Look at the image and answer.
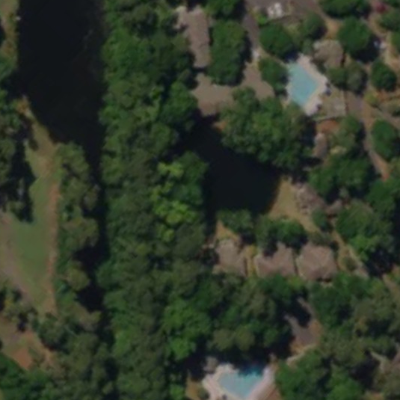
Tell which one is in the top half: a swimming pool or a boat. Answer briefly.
swimming pool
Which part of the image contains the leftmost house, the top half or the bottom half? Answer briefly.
top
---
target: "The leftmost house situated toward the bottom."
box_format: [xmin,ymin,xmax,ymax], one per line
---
[216,241,243,276]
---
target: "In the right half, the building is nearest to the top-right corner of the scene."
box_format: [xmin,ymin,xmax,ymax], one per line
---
[315,40,344,67]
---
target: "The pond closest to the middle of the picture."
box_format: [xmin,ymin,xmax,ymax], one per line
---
[193,127,280,221]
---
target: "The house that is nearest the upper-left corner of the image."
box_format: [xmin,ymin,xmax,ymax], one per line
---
[174,4,208,68]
